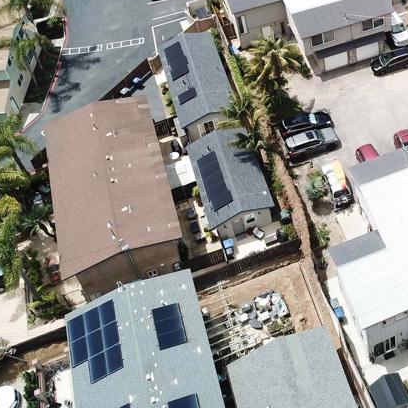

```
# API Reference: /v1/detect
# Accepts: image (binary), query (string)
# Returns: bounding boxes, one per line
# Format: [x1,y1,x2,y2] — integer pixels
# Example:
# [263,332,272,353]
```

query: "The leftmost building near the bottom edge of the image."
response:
[66,270,225,408]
